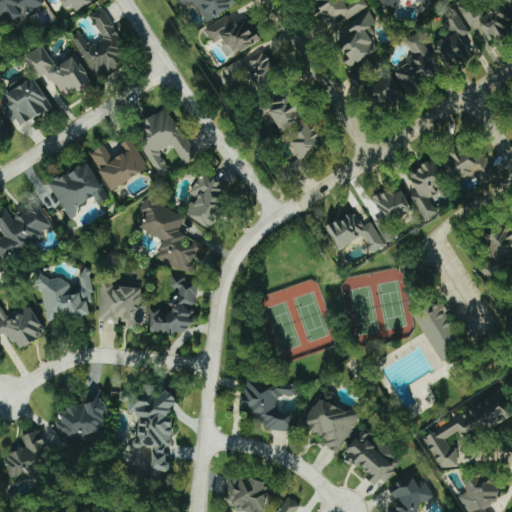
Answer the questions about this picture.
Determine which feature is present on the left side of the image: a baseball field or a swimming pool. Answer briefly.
swimming pool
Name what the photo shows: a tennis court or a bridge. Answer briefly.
tennis court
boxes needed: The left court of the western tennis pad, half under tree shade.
[266,290,312,358]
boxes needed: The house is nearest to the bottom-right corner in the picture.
[460,480,499,512]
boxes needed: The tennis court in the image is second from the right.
[344,274,386,344]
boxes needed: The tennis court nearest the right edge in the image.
[374,270,413,340]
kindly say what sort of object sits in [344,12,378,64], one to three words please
house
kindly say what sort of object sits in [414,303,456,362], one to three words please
building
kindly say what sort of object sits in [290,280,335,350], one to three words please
tennis court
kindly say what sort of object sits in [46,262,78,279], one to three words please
swimming pool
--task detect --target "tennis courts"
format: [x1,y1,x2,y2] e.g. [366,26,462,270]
[374,270,413,340]
[290,280,335,350]
[344,274,386,344]
[266,290,312,358]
